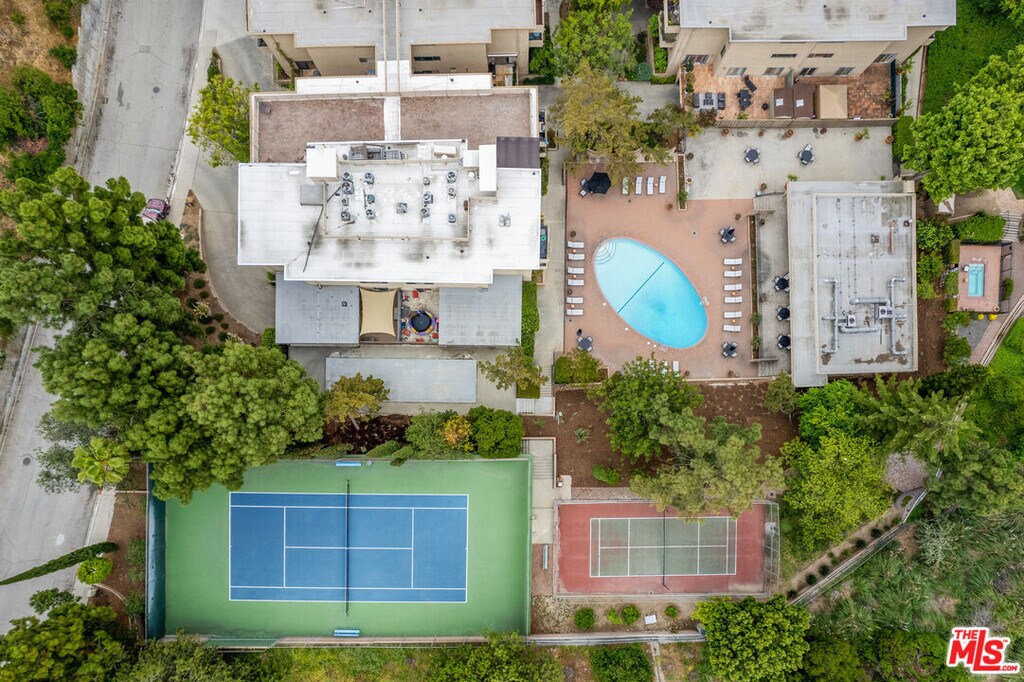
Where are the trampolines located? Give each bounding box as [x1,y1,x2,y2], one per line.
[408,310,432,334]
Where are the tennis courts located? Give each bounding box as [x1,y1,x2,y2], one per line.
[164,457,531,637]
[556,501,766,594]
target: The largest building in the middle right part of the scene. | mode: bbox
[785,181,918,387]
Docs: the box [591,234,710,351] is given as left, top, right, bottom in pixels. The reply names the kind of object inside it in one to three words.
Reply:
swimming pool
